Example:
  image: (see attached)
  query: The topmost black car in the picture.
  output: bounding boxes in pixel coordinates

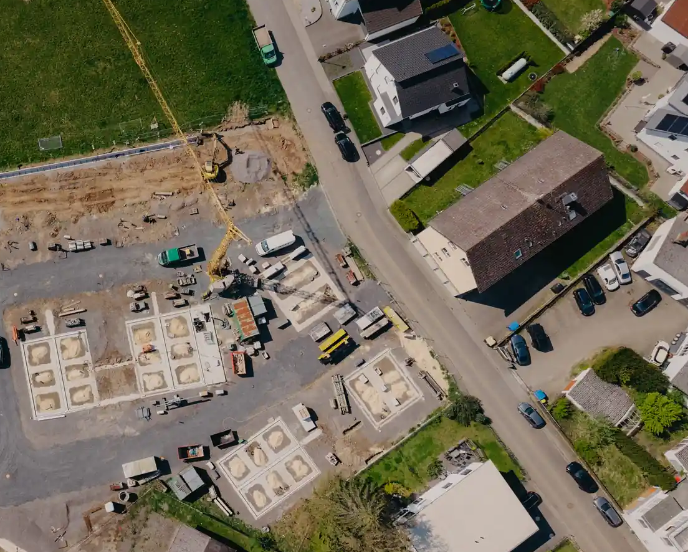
[320,103,345,137]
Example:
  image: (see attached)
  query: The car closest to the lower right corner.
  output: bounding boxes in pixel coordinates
[589,494,620,529]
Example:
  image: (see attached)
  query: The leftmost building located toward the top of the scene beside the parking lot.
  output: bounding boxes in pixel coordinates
[418,129,614,295]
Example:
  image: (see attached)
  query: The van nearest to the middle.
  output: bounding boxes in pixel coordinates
[252,229,297,258]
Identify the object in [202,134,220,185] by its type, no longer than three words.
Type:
work vehicle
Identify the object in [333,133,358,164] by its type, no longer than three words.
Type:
car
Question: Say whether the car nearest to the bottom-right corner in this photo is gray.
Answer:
Yes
